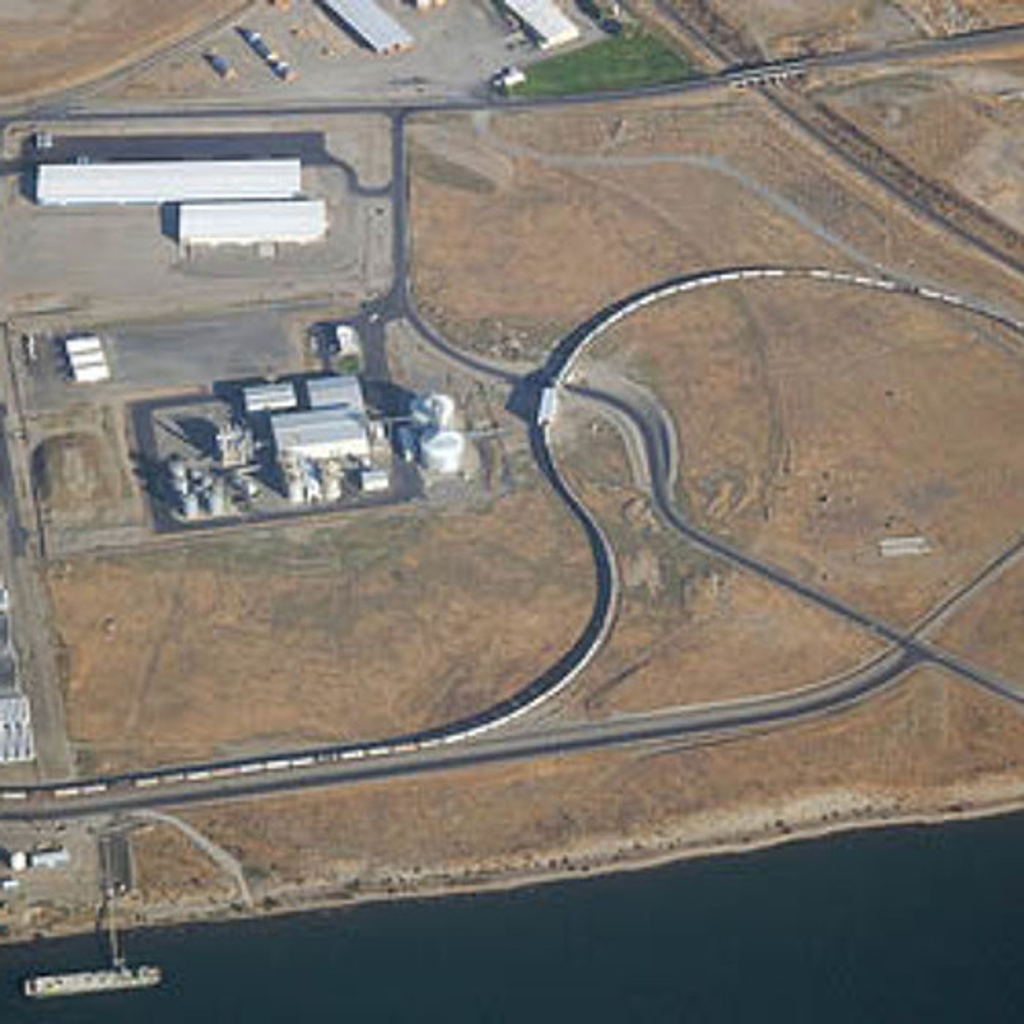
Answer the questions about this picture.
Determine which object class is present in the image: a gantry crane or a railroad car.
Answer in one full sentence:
Looking from above, you can make out a railroad car.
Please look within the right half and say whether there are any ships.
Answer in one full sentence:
No, there is no ship within the right half.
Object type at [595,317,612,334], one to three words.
rail car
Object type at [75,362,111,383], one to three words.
shed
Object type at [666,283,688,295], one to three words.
rail car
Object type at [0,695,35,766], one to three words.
building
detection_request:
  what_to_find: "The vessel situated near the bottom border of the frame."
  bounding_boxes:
[26,970,159,1000]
